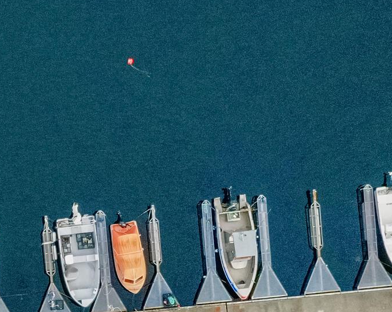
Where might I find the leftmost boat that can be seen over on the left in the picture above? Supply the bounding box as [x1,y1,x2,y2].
[58,200,101,307]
